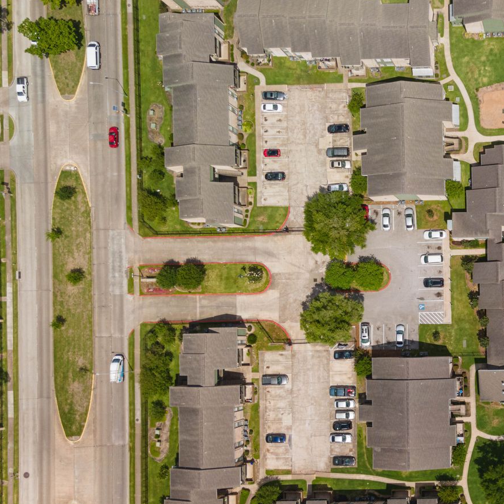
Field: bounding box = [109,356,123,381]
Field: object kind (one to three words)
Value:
vehicle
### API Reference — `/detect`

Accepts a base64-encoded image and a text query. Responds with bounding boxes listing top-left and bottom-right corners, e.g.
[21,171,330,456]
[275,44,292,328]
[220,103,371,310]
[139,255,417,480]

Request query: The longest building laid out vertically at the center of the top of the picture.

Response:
[157,10,247,224]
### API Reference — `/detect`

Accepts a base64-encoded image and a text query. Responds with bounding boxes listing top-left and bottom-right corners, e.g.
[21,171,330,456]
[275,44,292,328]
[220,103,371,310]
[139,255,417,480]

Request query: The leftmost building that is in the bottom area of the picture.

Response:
[164,328,255,504]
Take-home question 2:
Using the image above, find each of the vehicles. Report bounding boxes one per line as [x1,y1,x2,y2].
[423,278,444,288]
[333,399,356,408]
[380,207,391,230]
[404,207,414,230]
[86,0,98,14]
[326,182,348,191]
[263,170,286,181]
[420,254,444,263]
[109,356,123,381]
[326,146,348,157]
[327,123,349,132]
[261,375,288,386]
[14,75,28,102]
[394,325,405,347]
[261,147,282,157]
[260,101,283,112]
[332,457,355,467]
[333,421,352,431]
[86,43,99,67]
[423,229,446,240]
[262,89,285,100]
[332,350,355,360]
[265,433,286,443]
[330,433,352,444]
[329,158,351,169]
[360,323,371,346]
[335,411,355,420]
[107,126,118,147]
[329,386,356,397]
